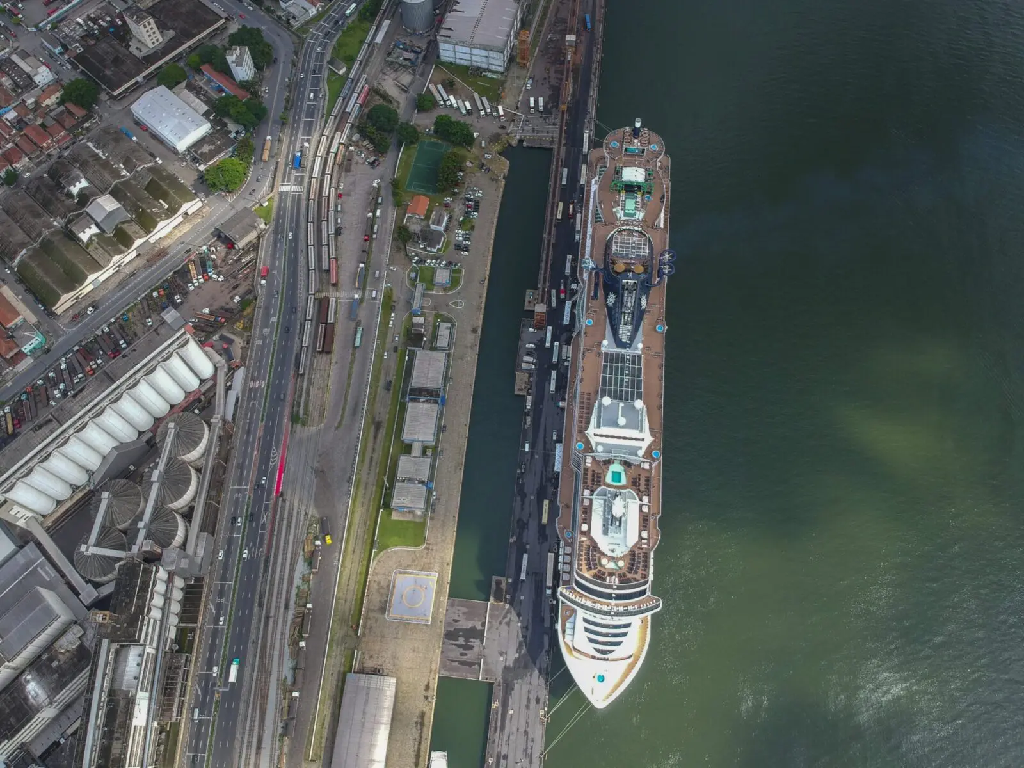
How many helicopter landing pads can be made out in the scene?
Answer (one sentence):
The count comes to 1 helicopter landing pad.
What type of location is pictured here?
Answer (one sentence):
The picture captures a port.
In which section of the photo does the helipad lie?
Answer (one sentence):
Look in the bottom portion of the view to spot the helipad.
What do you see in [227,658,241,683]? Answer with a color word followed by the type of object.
white vehicle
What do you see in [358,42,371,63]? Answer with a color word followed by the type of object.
gray rail car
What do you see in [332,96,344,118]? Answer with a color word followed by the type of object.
gray rail car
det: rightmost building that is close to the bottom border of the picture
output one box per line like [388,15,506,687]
[332,673,399,768]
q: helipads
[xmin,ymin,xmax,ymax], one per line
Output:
[386,569,438,624]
